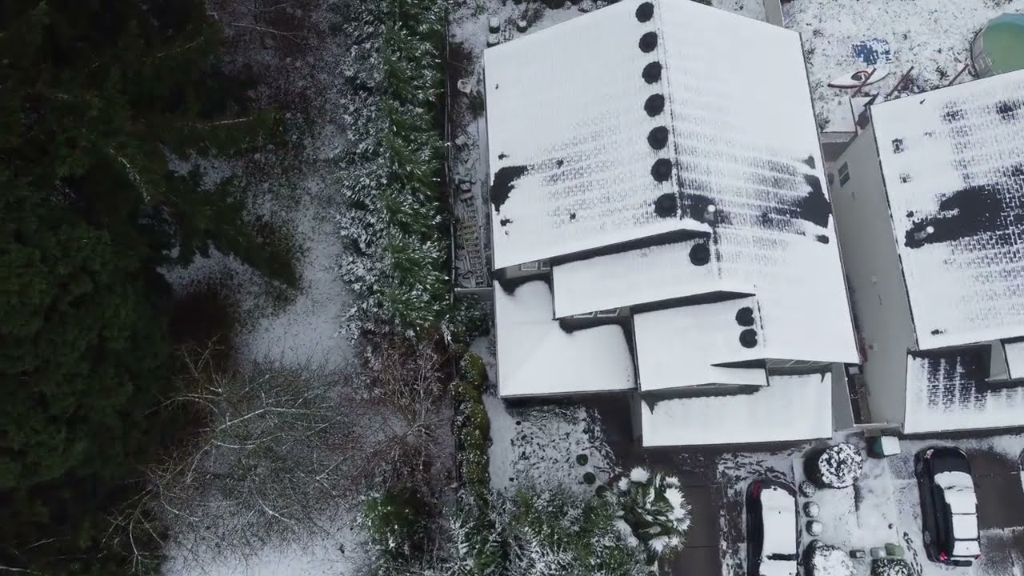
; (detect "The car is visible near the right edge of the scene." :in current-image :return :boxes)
[912,446,985,568]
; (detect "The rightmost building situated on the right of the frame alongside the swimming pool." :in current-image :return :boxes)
[827,65,1024,436]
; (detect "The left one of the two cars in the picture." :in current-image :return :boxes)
[743,479,805,576]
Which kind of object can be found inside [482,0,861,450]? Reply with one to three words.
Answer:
house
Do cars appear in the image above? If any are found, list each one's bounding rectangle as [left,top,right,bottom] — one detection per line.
[912,446,985,568]
[743,479,805,576]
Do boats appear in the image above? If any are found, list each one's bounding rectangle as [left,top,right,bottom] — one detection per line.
[830,65,895,85]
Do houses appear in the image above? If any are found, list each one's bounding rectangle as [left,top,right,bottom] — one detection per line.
[827,65,1024,436]
[482,0,861,450]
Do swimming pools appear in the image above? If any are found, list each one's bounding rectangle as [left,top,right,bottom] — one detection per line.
[970,3,1024,76]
